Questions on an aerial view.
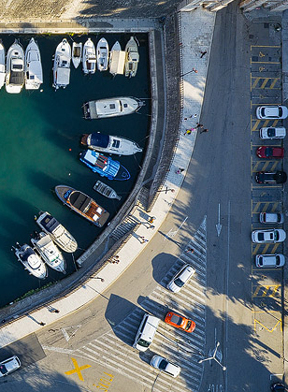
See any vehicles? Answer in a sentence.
Yes, there's a vehicle down there.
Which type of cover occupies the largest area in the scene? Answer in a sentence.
The scene is dominated by paved ground.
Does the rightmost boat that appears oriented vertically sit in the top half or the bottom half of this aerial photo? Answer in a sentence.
It is in the top half that the rightmost boat that appears oriented vertically appears.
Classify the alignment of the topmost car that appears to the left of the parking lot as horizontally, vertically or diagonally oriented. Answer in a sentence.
What the image shows is the topmost car that appears to the left of the parking lot lying diagonally.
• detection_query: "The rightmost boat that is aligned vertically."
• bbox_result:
[121,35,141,81]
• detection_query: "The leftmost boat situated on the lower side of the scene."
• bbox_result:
[11,242,48,285]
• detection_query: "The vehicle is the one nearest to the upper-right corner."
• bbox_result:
[254,104,287,120]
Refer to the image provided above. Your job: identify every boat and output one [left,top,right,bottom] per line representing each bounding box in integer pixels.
[31,233,67,272]
[121,35,141,81]
[50,35,75,93]
[94,36,112,82]
[71,40,81,70]
[80,35,98,81]
[11,242,48,285]
[35,211,77,261]
[106,34,128,85]
[75,131,143,158]
[23,36,41,97]
[78,153,131,180]
[81,97,151,122]
[56,187,110,232]
[91,179,124,200]
[5,35,25,98]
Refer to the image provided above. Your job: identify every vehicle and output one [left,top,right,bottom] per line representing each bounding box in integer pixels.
[257,125,287,139]
[257,212,283,225]
[252,170,286,185]
[254,253,285,268]
[0,354,24,377]
[254,145,285,160]
[132,313,164,351]
[254,104,287,120]
[163,262,200,295]
[148,354,182,378]
[249,228,285,244]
